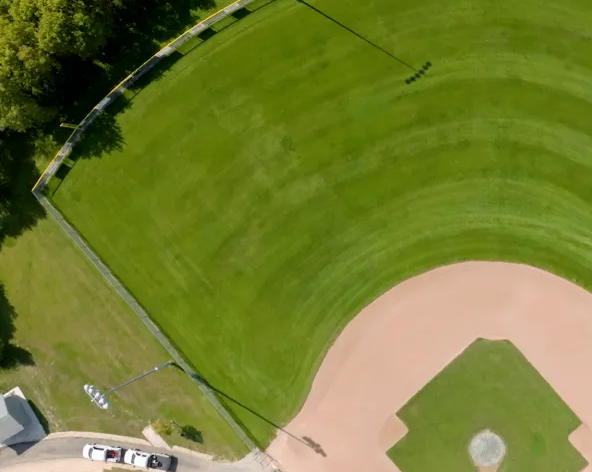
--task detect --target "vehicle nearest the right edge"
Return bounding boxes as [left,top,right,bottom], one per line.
[127,448,175,468]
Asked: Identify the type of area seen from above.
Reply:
sports ground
